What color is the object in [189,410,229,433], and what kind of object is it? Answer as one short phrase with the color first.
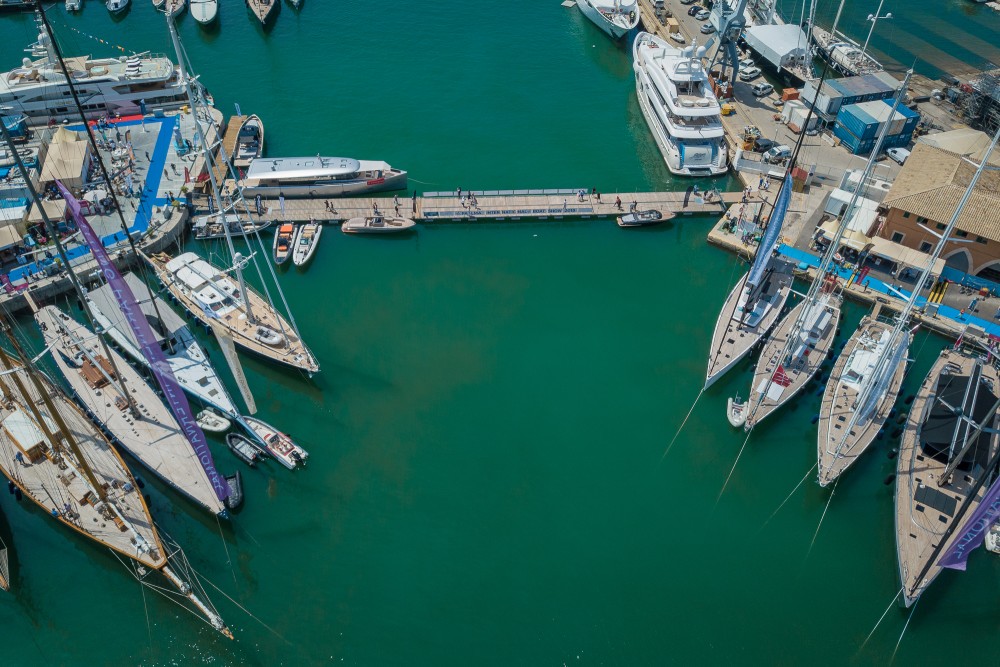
white boat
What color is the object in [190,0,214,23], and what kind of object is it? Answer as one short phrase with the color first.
white boat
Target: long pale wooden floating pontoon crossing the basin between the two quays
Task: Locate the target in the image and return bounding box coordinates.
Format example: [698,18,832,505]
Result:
[185,175,723,227]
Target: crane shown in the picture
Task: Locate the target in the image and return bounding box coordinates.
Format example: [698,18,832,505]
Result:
[701,0,763,91]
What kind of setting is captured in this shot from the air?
port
